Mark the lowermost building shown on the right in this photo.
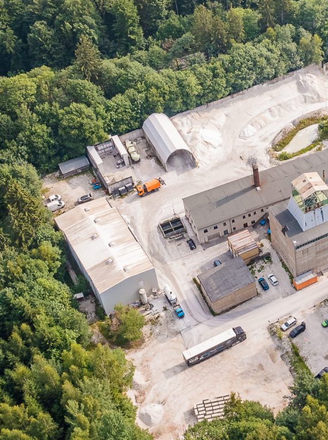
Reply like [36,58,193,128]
[195,257,257,315]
